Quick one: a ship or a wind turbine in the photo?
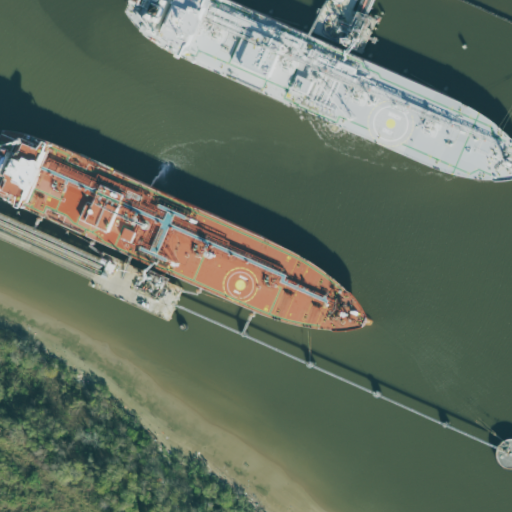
ship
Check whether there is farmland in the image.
No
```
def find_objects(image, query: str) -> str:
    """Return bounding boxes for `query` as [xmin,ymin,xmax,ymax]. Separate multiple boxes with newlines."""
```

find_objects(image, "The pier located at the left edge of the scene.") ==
[0,213,183,320]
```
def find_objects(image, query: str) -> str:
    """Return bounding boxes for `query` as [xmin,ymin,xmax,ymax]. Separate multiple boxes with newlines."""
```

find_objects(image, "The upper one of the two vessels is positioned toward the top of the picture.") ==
[120,0,512,182]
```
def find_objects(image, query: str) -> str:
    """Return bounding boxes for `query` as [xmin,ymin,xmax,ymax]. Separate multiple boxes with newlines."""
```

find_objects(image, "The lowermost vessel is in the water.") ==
[0,130,374,331]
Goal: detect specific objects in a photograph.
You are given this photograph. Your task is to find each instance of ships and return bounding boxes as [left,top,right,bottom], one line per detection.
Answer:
[120,0,512,182]
[0,130,374,331]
